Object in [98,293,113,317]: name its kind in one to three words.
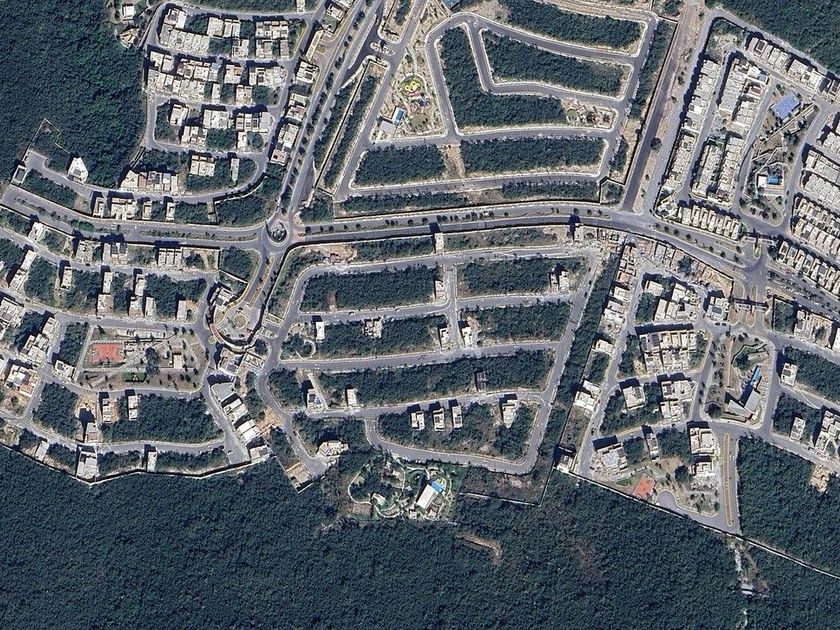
house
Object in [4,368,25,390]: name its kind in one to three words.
house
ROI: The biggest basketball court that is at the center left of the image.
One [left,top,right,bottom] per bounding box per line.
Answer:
[85,341,126,367]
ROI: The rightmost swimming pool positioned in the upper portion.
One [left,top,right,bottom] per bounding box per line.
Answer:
[758,175,783,191]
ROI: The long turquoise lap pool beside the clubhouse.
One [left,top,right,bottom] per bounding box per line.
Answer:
[748,364,766,390]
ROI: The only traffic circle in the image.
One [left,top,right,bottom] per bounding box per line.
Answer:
[259,215,296,253]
